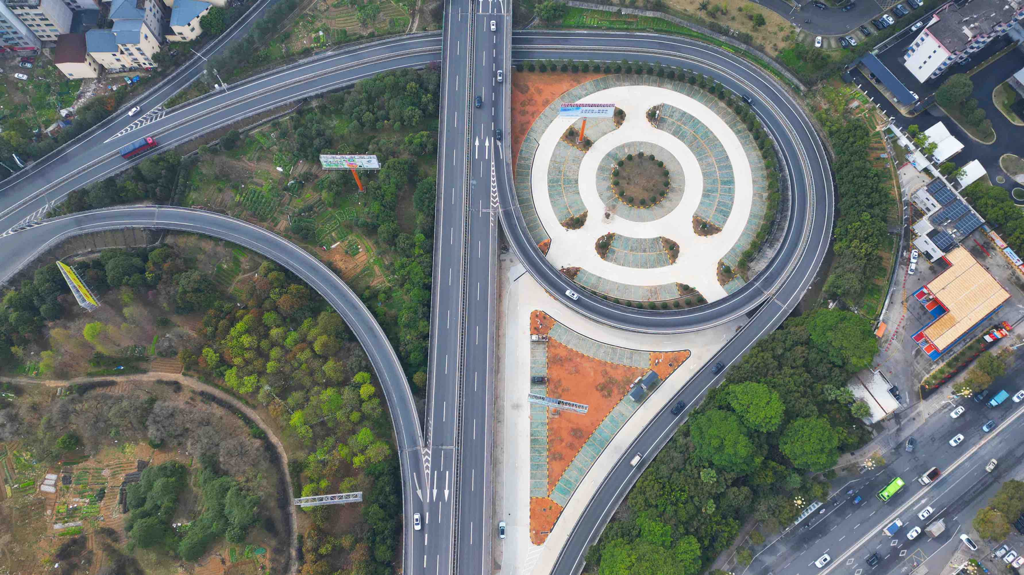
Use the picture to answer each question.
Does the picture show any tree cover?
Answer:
Yes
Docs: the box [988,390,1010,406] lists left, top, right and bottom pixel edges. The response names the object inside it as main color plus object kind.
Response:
blue vehicle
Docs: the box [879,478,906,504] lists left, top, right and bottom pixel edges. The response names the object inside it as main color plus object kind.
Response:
green bus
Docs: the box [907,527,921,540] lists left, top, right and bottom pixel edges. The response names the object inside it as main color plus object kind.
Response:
white vehicle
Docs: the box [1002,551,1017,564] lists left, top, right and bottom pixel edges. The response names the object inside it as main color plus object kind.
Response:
white vehicle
